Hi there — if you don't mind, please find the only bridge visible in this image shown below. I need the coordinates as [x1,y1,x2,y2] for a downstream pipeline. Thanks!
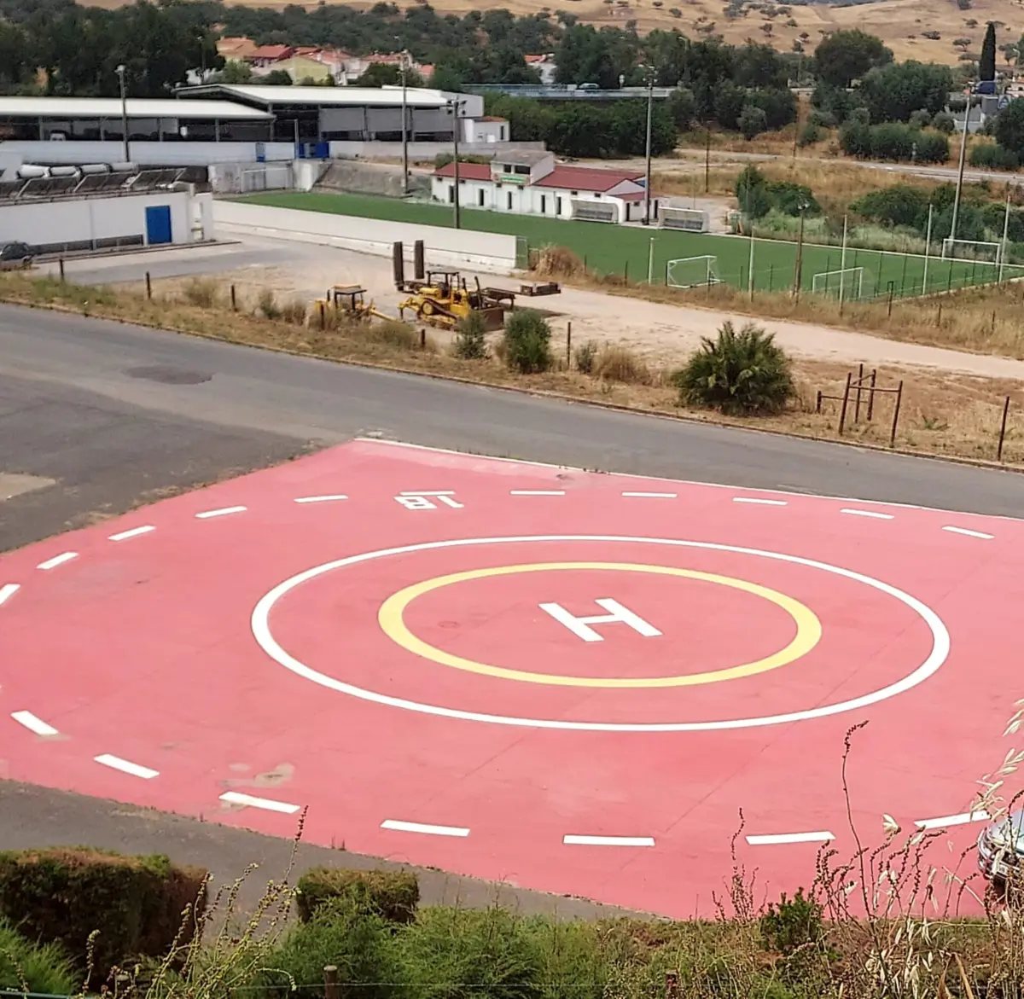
[443,76,699,105]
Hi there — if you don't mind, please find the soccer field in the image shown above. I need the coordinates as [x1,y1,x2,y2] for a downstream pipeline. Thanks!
[205,189,1024,309]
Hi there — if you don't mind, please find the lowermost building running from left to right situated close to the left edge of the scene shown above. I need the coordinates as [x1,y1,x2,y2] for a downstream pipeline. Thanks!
[0,188,210,249]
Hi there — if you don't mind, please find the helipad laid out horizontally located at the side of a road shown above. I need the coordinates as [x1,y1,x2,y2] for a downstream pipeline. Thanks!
[0,438,1024,951]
